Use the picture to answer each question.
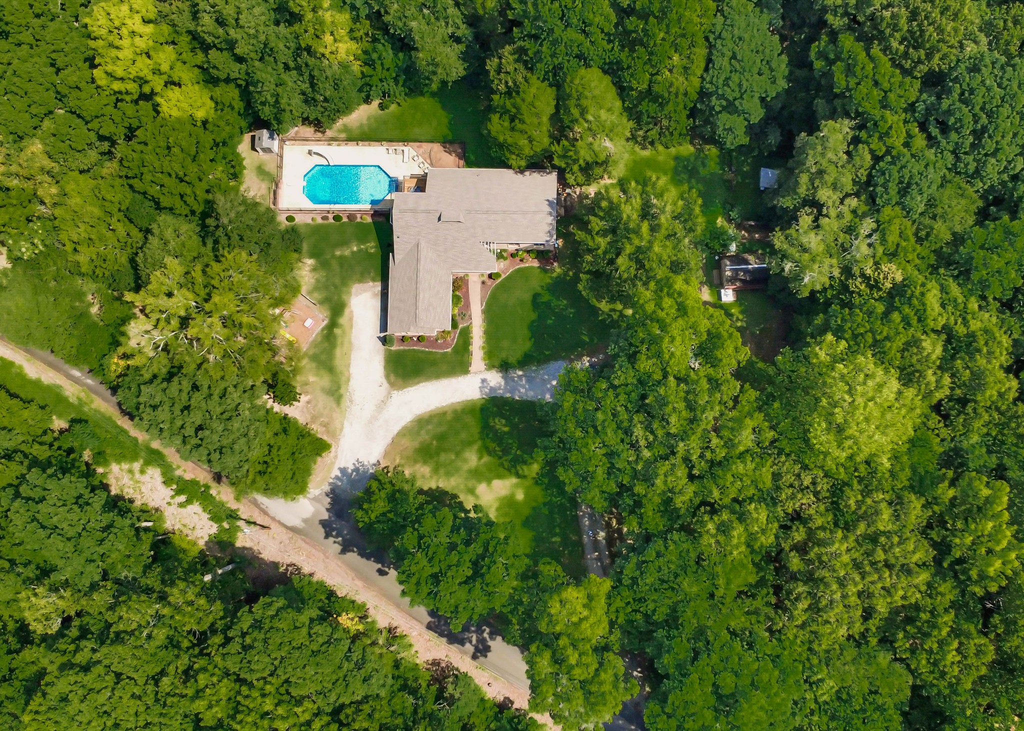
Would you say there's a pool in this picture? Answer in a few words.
Yes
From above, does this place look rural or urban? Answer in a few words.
rural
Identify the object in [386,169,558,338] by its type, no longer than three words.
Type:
house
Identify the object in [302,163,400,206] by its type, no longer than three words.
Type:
swimming pool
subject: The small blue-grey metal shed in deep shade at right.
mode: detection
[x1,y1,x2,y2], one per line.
[755,169,778,195]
